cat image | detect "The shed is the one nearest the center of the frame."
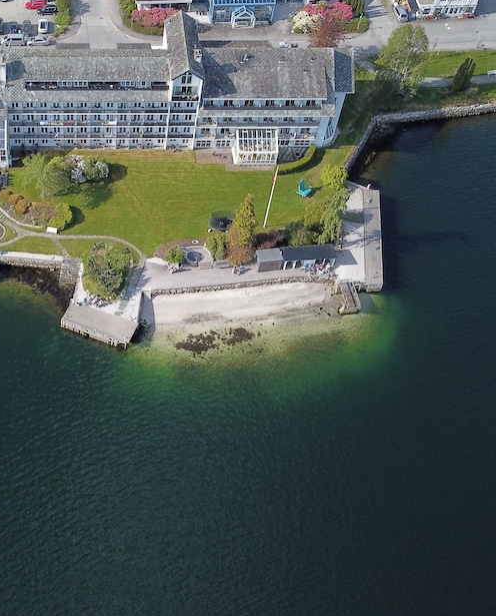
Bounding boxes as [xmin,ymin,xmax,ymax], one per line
[254,246,284,271]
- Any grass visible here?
Yes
